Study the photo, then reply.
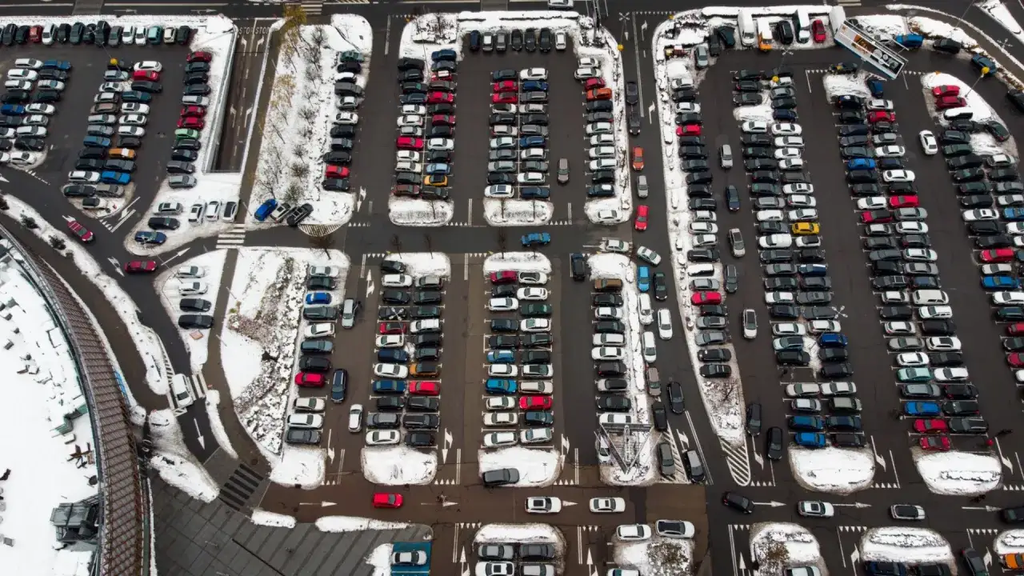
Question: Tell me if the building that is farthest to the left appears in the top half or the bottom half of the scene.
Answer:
bottom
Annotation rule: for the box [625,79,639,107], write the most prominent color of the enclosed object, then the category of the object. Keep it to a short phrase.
black vehicle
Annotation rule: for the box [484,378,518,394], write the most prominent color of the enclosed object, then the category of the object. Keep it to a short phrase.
blue car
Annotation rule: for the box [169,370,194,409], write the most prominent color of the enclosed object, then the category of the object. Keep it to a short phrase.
white vehicle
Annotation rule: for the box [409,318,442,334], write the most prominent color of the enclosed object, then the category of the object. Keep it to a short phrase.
white car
